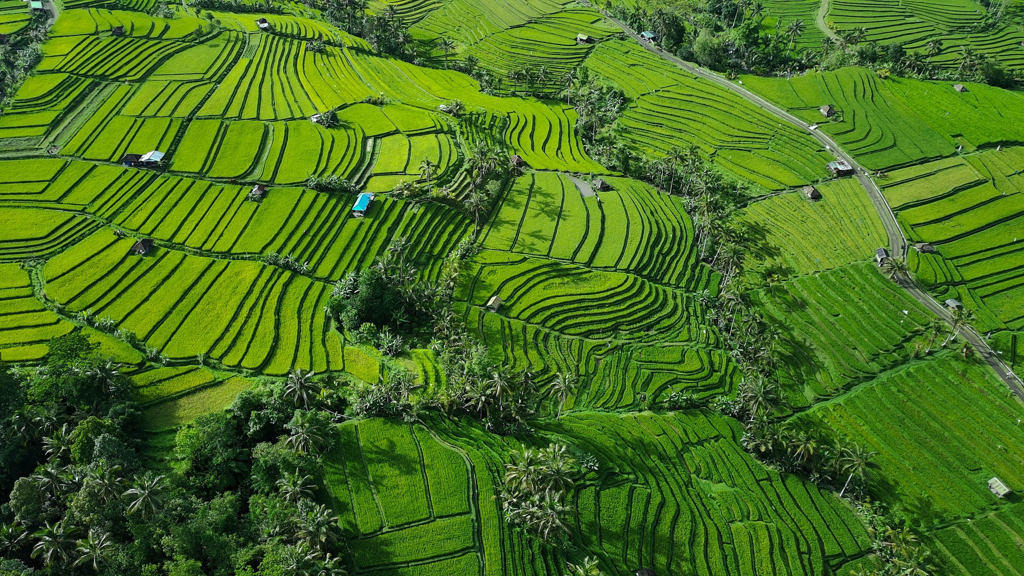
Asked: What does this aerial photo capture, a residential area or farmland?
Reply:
farmland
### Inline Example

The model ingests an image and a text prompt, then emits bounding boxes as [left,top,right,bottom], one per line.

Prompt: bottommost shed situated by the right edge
[985,476,1016,500]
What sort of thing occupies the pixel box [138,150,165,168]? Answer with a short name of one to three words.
shed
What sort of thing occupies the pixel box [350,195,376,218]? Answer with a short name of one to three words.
shed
